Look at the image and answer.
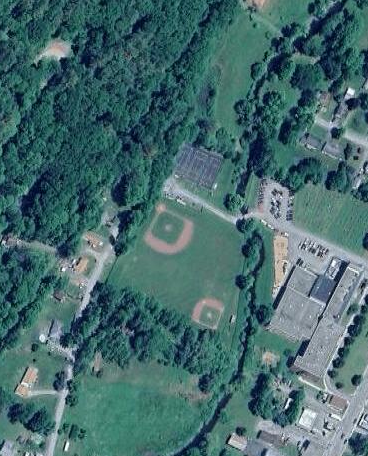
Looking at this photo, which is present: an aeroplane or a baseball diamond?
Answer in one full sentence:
There is a baseball diamond in the scene.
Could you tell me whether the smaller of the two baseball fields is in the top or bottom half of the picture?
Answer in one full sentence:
The smaller of the two baseball fields sits in the bottom half of the picture.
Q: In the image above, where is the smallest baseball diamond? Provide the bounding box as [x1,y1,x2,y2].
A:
[190,296,225,337]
